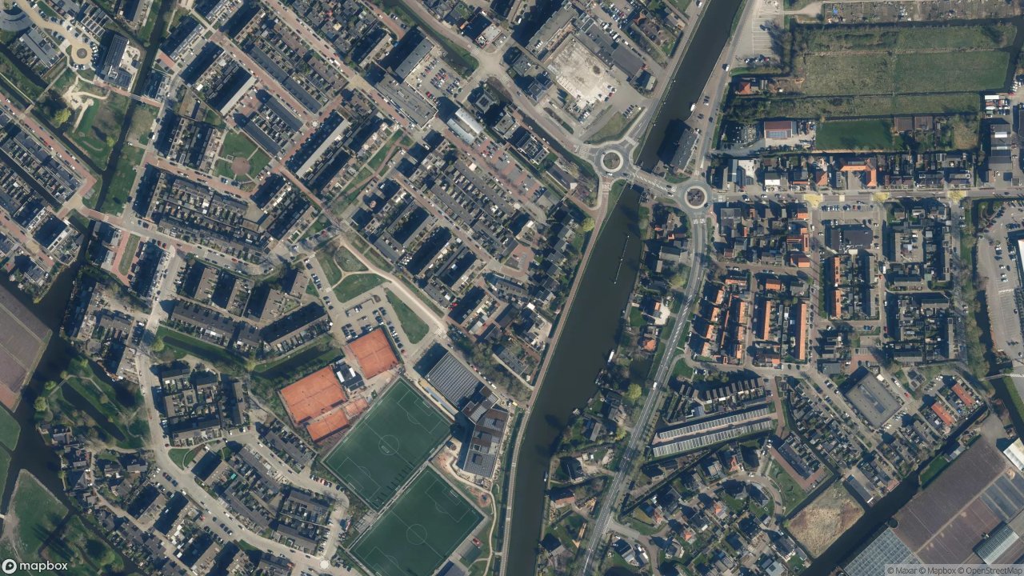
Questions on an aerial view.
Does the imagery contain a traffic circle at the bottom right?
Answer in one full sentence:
No, looking at the bottom right, there is no traffic circle.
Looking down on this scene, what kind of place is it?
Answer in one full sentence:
It's a residential area.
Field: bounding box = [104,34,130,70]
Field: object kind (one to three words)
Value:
building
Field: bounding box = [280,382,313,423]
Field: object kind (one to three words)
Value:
tennis court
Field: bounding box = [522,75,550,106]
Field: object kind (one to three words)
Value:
house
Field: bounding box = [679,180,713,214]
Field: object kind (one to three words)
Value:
roundabout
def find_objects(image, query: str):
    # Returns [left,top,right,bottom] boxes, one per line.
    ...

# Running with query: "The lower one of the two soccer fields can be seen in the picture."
[349,465,485,576]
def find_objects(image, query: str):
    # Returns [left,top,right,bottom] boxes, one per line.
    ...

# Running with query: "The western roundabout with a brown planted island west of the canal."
[595,144,628,177]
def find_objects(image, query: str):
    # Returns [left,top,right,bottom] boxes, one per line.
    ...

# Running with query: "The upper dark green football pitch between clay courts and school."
[324,378,454,510]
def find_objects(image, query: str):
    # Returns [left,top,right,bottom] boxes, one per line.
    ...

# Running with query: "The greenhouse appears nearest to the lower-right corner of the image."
[972,521,1019,564]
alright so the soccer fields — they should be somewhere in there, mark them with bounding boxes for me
[324,378,454,510]
[349,465,485,576]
